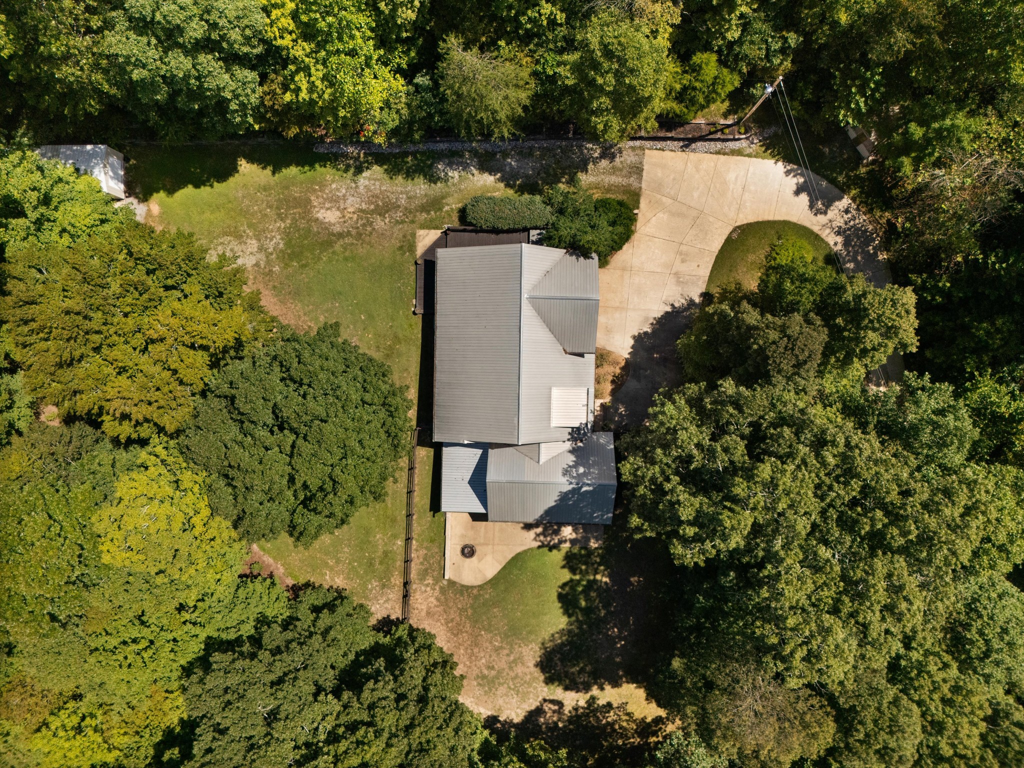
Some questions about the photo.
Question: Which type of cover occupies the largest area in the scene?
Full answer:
The largest share of the image is taken up by trees.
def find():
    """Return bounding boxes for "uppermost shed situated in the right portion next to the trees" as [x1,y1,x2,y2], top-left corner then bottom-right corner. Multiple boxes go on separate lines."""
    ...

[836,123,876,165]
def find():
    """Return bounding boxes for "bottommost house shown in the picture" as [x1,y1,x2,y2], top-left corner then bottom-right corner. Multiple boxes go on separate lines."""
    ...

[432,243,616,526]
